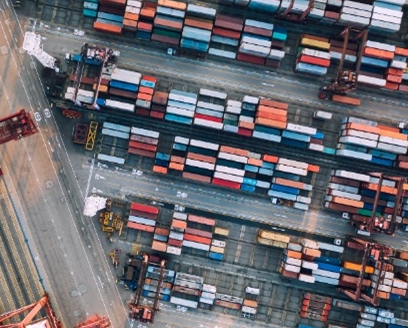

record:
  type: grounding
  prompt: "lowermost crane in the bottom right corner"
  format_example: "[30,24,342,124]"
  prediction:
[338,235,387,306]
